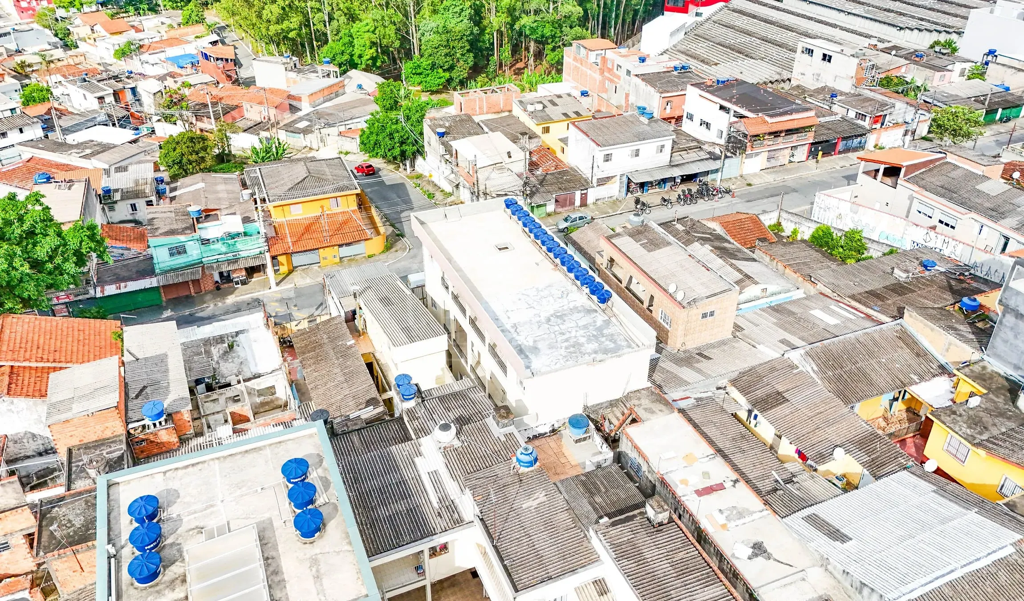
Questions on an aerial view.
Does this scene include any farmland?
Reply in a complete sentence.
No, there's no farmland in this view.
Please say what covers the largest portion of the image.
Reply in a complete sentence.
What you mostly see from above here is buildings.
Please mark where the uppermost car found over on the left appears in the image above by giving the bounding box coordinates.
[354,159,376,174]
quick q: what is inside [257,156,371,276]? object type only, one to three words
house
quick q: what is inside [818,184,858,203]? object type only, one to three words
house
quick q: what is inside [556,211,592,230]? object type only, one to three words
car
